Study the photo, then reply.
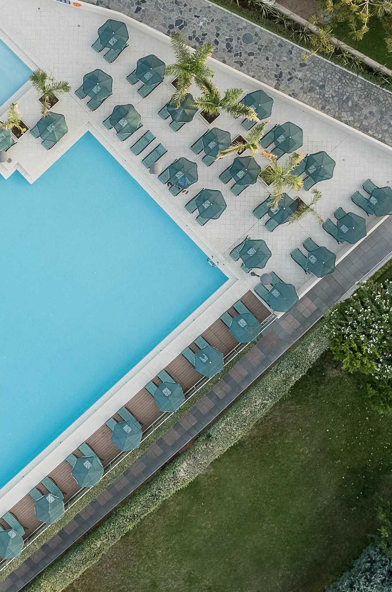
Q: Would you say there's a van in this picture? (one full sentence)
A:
No, I find no van anywhere in the image.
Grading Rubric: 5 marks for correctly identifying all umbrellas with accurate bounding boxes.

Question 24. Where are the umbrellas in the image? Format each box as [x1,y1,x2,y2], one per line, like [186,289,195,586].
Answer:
[230,154,262,185]
[111,416,142,447]
[245,87,276,120]
[111,104,142,136]
[306,151,338,184]
[153,379,186,411]
[335,210,368,242]
[166,93,198,126]
[132,55,164,87]
[229,312,261,345]
[94,19,128,52]
[268,283,300,316]
[306,245,337,276]
[75,451,107,484]
[190,188,224,221]
[272,124,303,155]
[200,124,232,156]
[36,492,68,523]
[197,347,228,378]
[238,237,272,269]
[37,112,70,146]
[163,156,196,189]
[79,68,112,99]
[0,527,24,559]
[364,182,392,213]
